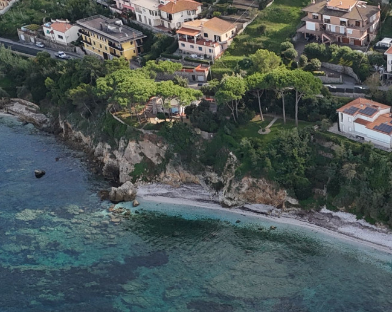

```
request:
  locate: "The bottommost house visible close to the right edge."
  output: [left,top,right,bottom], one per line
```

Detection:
[335,99,392,151]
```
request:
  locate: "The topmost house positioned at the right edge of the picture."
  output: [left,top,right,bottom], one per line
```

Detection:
[298,0,387,48]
